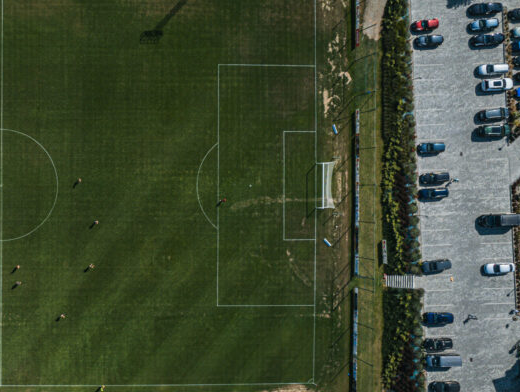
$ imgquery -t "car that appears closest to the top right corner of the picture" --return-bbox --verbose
[508,8,520,21]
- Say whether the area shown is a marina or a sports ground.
sports ground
